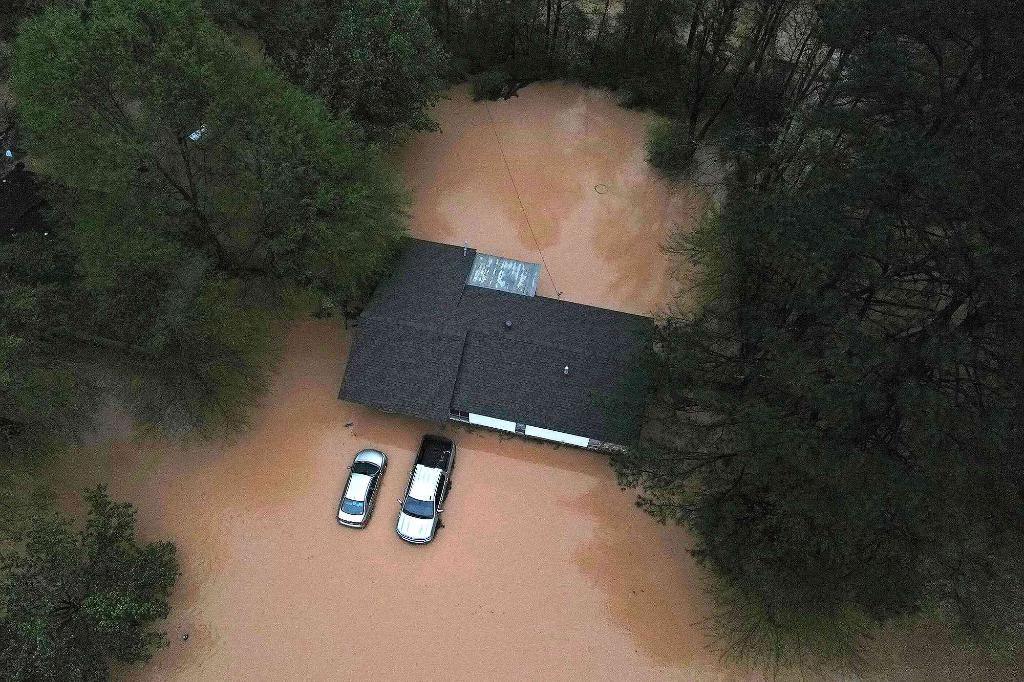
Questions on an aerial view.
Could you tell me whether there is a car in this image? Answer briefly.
Yes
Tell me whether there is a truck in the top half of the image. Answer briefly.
No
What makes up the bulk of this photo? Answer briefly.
trees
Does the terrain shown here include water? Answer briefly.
Yes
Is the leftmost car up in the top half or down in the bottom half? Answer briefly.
bottom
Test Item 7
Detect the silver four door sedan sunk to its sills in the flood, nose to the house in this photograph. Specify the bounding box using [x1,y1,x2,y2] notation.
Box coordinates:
[335,446,385,533]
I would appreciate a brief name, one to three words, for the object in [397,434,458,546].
truck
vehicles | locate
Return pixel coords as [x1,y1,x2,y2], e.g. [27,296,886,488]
[397,434,458,546]
[335,446,385,533]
